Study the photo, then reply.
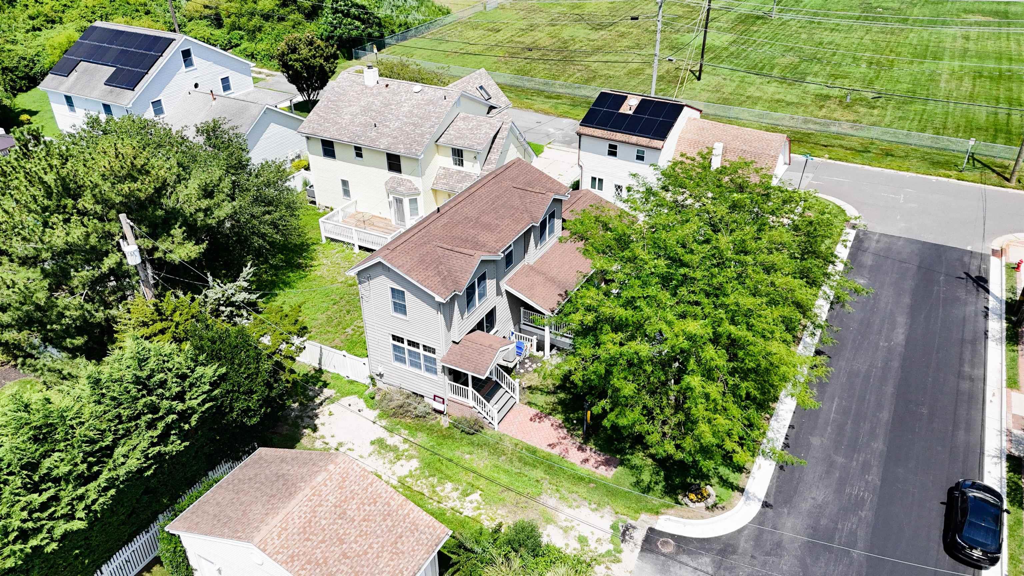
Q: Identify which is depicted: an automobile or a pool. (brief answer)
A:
automobile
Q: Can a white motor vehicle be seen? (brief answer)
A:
No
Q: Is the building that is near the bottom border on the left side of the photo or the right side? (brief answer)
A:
left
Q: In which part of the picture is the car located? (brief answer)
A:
bottom right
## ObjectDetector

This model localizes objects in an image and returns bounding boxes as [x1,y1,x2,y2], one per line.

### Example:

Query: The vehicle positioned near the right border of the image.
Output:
[940,479,1014,573]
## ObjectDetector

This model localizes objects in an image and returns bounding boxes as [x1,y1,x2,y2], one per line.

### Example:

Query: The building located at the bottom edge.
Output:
[163,448,454,576]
